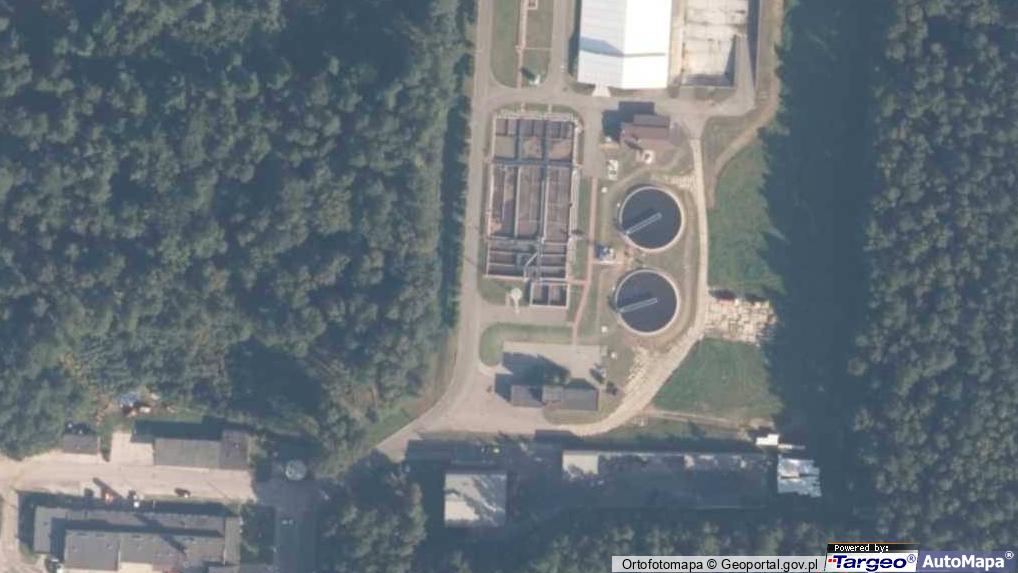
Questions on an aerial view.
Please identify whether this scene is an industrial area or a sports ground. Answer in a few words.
industrial area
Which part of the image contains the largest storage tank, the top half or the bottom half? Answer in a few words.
top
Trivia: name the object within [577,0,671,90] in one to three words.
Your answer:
building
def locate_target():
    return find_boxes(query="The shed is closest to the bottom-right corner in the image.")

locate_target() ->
[776,458,820,497]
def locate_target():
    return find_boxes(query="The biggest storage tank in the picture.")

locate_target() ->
[486,109,576,281]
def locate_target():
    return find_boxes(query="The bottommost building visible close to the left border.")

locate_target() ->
[34,506,246,573]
